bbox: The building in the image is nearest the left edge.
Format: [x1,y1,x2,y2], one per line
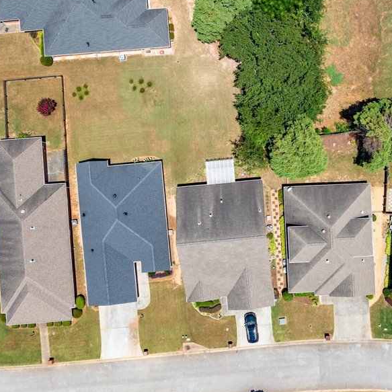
[0,137,78,326]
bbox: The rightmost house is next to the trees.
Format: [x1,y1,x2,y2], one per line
[283,183,375,296]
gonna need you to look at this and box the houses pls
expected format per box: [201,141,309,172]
[176,180,274,310]
[0,0,170,58]
[283,183,375,296]
[76,160,171,306]
[0,137,78,326]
